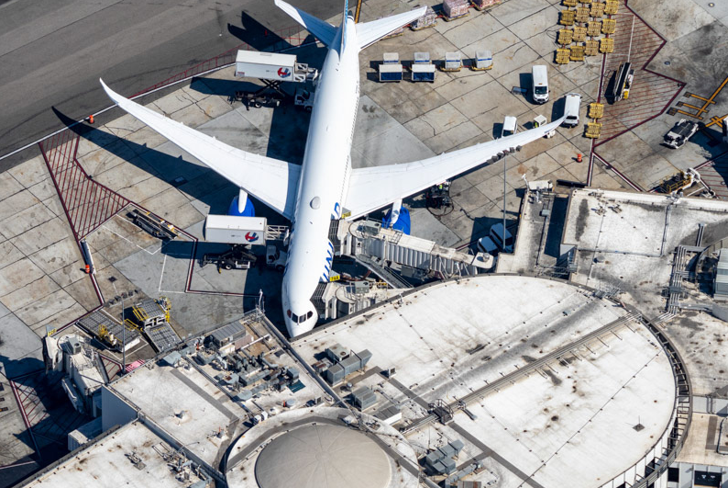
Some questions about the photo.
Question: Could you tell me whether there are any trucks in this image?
Yes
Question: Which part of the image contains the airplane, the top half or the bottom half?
top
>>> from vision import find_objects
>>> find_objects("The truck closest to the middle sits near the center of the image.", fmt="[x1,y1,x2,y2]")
[421,184,456,226]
